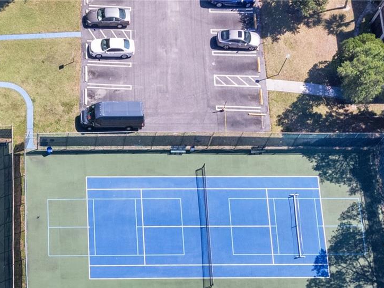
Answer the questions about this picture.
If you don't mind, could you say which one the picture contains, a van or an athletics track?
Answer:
van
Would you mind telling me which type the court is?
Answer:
tennis court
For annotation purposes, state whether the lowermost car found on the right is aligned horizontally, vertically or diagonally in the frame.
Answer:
horizontally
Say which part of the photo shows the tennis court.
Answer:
bottom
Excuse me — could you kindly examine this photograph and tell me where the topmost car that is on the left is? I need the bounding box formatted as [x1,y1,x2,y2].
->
[85,5,130,28]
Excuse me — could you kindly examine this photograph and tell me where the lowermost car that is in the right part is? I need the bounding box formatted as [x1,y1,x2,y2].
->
[216,28,262,50]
